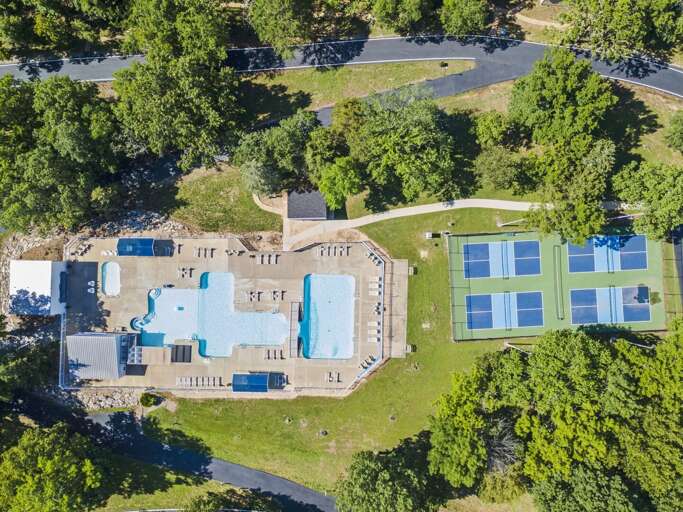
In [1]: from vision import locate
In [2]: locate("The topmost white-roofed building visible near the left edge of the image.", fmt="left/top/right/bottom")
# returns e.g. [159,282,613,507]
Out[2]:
[11,261,66,315]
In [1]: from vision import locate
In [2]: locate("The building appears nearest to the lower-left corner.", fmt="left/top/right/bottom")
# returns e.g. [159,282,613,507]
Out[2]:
[67,331,129,378]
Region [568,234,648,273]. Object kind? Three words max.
sports court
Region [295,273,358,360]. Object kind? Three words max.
swimming pool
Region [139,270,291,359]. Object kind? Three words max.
swimming pool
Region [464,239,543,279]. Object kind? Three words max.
sports court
